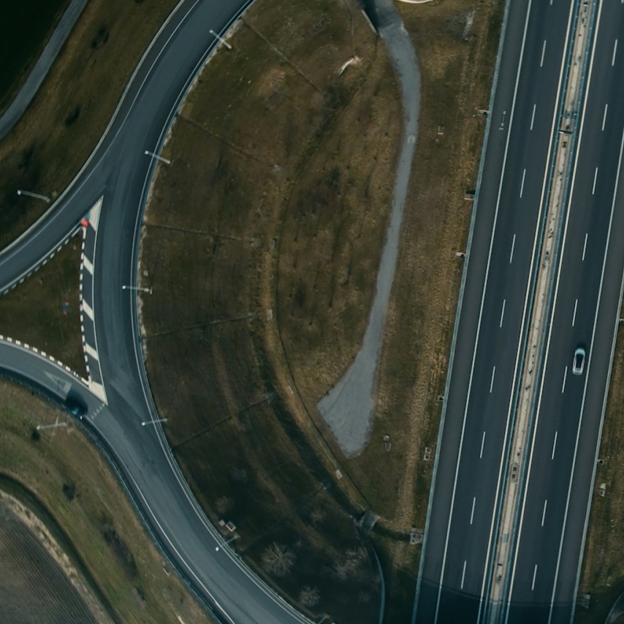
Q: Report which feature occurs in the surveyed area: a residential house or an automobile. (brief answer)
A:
automobile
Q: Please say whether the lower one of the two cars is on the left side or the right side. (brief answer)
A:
left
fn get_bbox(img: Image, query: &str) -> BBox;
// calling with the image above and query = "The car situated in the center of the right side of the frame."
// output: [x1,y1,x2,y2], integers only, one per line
[574,347,586,375]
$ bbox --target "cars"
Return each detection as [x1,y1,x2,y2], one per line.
[64,394,90,419]
[574,347,586,375]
